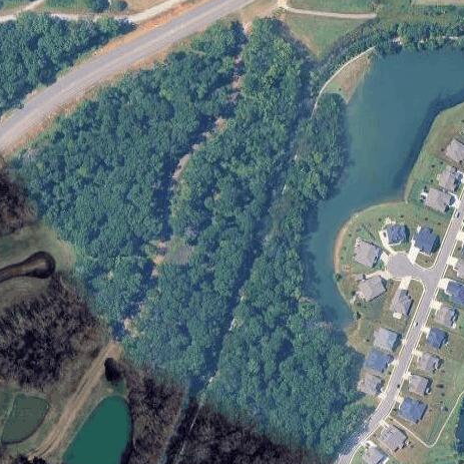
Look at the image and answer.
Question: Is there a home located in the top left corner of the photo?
No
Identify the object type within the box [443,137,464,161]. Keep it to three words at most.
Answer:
house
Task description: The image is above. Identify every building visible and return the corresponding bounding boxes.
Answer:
[358,275,385,303]
[364,349,388,373]
[416,353,443,373]
[409,373,431,397]
[382,425,406,451]
[443,137,464,161]
[437,165,463,188]
[387,222,404,245]
[447,280,464,306]
[388,292,413,316]
[361,446,387,464]
[425,188,449,213]
[415,227,439,252]
[371,326,400,349]
[353,239,381,264]
[402,398,425,423]
[359,373,379,396]
[428,326,449,349]
[438,305,458,327]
